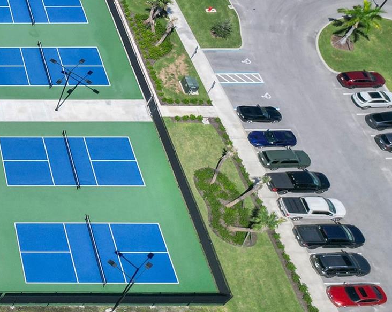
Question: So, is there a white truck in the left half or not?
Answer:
No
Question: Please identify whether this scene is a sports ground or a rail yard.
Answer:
sports ground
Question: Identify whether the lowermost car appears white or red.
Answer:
red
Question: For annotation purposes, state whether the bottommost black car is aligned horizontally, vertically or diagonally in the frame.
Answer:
horizontally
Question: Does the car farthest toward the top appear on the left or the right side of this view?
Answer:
right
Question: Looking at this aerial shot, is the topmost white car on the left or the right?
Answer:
right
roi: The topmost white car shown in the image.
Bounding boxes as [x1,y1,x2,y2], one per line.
[351,88,392,109]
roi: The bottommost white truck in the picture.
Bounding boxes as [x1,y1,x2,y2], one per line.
[277,191,351,219]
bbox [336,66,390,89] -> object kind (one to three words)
car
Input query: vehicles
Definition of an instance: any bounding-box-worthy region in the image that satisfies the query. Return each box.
[258,144,316,169]
[375,129,392,152]
[326,279,392,307]
[247,125,303,147]
[290,219,370,247]
[336,66,390,89]
[265,167,335,192]
[233,100,285,122]
[310,249,376,277]
[351,88,392,109]
[365,110,392,130]
[277,191,351,219]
